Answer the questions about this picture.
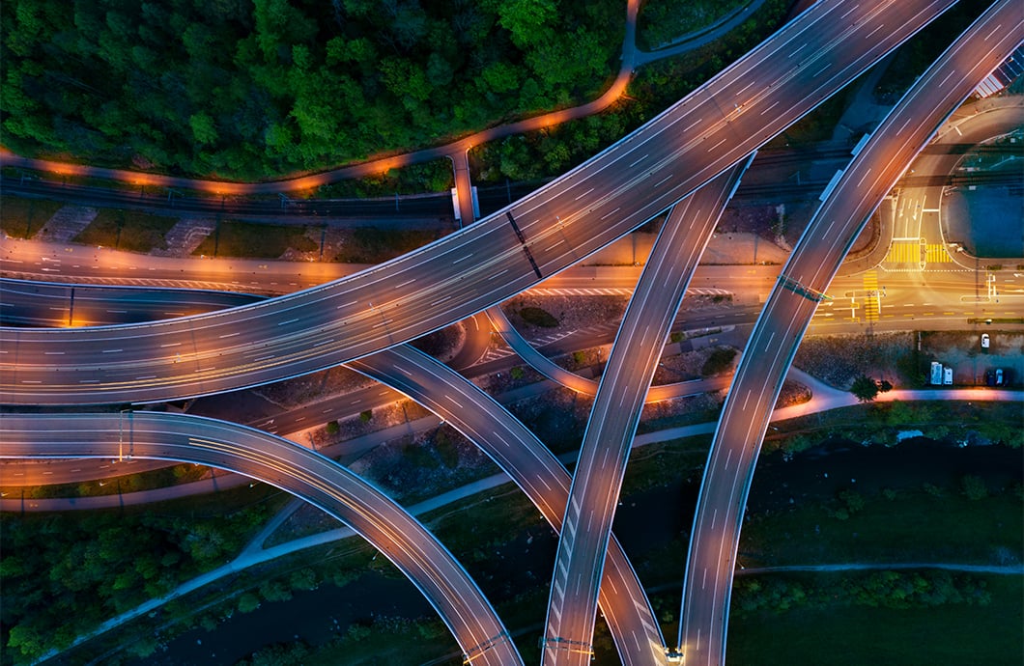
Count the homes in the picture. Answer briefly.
0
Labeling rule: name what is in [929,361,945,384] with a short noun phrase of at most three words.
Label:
vehicle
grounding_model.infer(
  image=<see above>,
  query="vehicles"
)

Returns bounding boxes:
[1003,370,1012,385]
[944,367,955,384]
[994,369,1003,384]
[929,361,945,384]
[986,370,995,385]
[980,333,990,347]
